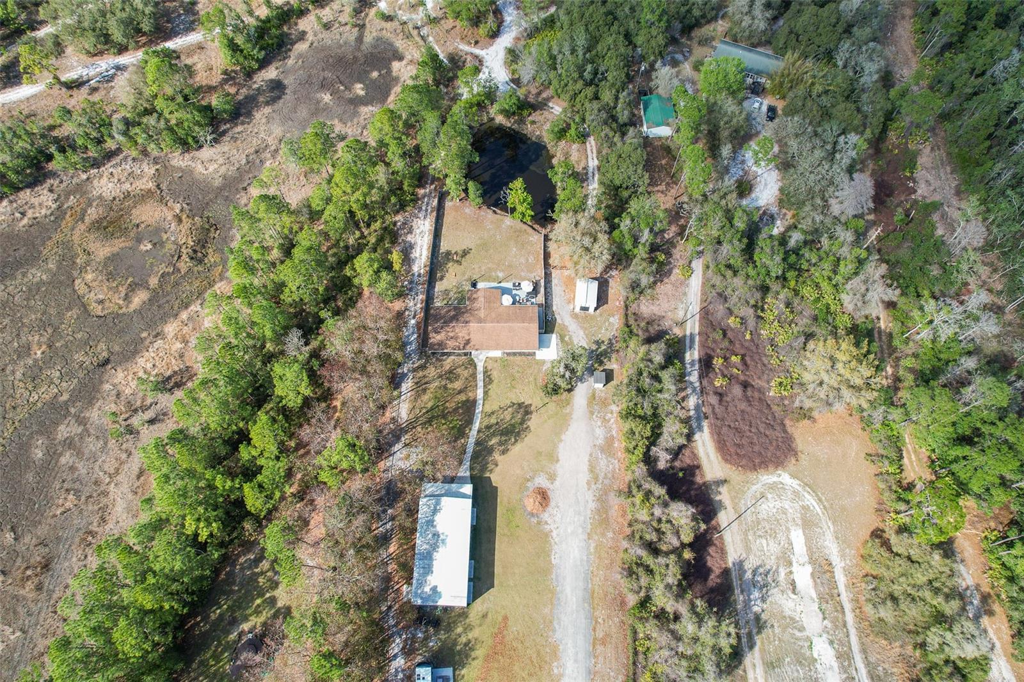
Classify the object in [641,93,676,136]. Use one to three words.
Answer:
building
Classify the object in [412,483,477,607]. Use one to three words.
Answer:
building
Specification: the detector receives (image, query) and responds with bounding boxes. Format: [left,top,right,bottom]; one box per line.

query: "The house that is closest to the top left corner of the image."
[428,286,539,357]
